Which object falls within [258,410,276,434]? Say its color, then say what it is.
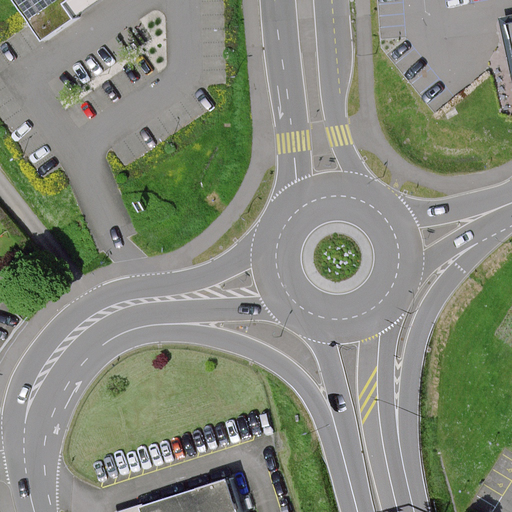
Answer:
white vehicle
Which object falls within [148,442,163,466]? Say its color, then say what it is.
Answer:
white car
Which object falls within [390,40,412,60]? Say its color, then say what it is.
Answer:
gray car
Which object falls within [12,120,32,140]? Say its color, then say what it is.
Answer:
white car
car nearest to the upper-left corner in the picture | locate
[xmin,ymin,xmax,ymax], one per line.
[1,41,18,62]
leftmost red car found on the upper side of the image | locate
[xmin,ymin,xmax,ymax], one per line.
[81,101,98,119]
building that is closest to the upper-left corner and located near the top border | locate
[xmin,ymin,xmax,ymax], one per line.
[12,0,77,42]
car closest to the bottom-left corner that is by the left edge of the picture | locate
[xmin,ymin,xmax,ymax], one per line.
[18,478,30,499]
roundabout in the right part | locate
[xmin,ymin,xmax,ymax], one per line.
[254,173,422,342]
